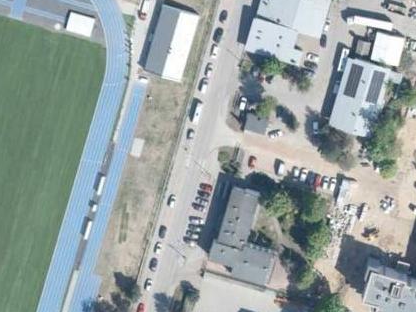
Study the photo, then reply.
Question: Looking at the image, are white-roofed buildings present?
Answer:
Yes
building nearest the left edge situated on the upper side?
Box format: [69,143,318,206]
[143,1,200,82]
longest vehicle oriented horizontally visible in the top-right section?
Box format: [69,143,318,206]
[347,15,393,33]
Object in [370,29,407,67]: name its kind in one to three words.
shed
